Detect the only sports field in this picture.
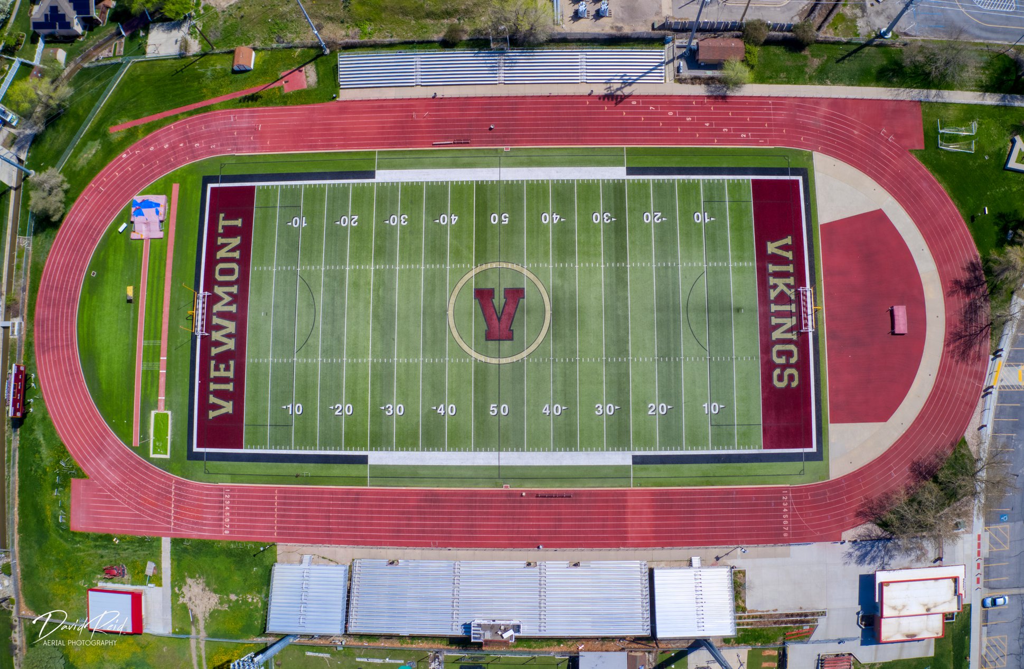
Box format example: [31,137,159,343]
[244,179,762,452]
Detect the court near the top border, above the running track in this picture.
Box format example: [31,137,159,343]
[146,19,187,54]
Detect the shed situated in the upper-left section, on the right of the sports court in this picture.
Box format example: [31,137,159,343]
[231,44,254,71]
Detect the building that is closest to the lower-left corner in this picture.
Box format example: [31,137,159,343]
[87,586,145,633]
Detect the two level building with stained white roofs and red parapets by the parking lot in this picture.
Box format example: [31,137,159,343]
[870,564,967,643]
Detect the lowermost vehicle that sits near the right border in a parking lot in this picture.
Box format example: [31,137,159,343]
[983,595,1012,610]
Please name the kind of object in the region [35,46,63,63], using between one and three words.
shed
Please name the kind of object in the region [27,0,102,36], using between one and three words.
house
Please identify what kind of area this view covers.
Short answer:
sports ground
